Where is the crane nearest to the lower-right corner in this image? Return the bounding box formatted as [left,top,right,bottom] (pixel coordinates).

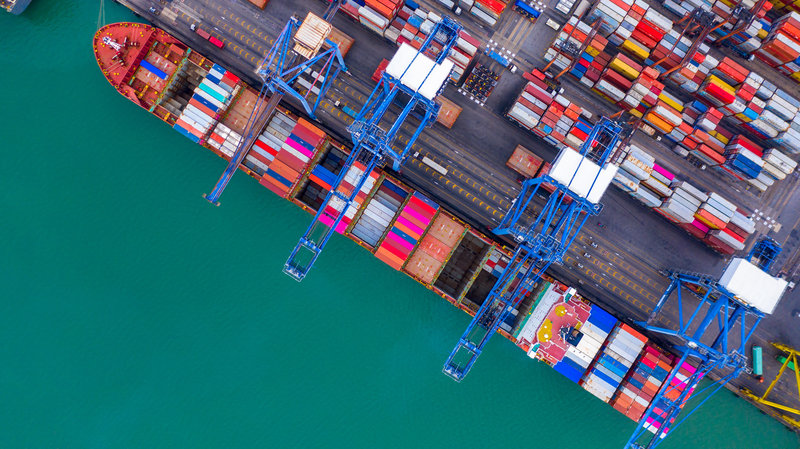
[736,337,800,425]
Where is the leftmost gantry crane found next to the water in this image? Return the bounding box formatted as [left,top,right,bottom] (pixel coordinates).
[200,0,357,204]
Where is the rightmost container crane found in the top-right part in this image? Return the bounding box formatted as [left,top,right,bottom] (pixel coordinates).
[708,0,766,40]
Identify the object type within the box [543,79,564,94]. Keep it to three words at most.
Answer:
vehicle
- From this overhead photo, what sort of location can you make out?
port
